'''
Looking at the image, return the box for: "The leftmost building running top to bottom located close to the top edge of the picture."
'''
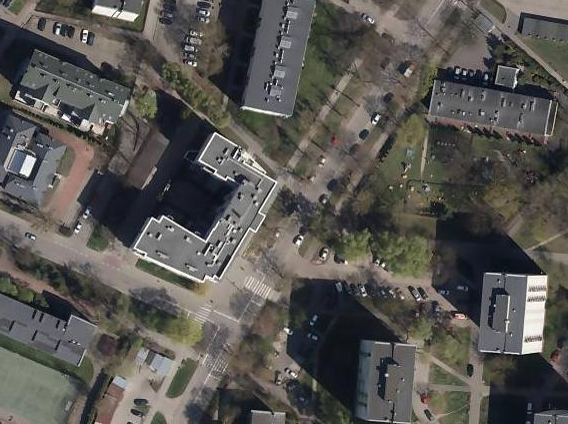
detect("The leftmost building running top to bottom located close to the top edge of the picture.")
[241,0,314,119]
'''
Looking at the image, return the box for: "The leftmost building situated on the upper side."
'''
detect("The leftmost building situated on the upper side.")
[0,115,66,208]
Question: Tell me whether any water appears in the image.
No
